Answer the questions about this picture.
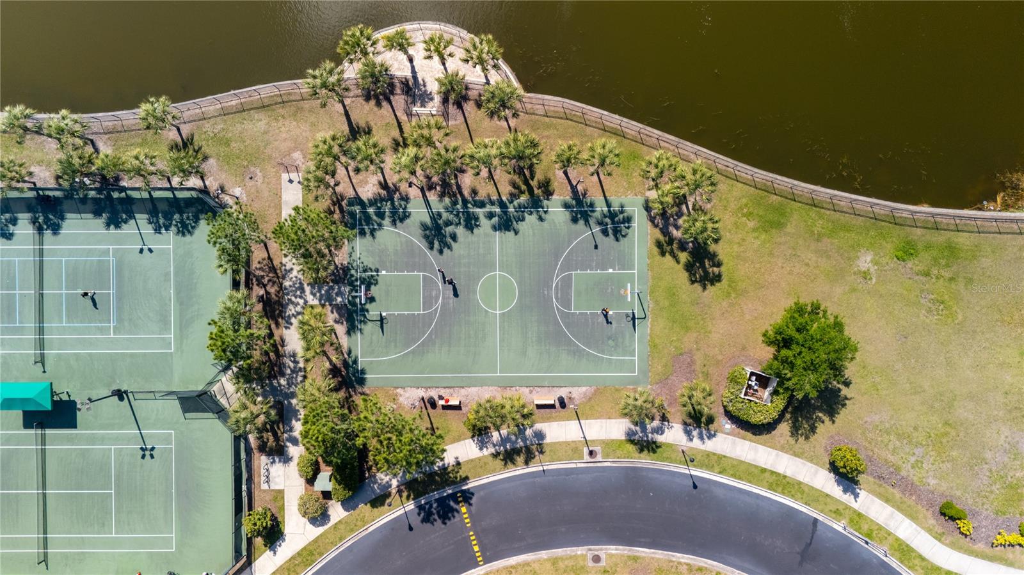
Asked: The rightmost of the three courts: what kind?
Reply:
basketball court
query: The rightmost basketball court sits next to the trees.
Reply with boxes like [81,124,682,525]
[346,197,649,388]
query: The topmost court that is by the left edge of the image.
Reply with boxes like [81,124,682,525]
[0,193,243,392]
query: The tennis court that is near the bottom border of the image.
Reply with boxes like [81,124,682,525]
[0,392,245,575]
